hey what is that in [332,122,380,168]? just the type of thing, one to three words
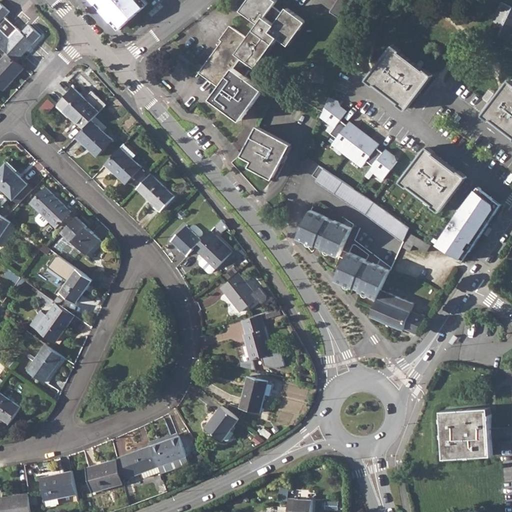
house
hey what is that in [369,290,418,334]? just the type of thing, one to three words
building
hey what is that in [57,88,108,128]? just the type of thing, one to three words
house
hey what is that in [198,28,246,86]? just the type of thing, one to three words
building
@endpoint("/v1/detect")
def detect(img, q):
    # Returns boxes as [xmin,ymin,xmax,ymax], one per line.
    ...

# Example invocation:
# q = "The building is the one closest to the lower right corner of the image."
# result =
[437,408,493,461]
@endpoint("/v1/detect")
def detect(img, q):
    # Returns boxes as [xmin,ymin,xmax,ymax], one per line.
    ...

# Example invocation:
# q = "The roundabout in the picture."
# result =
[299,352,406,504]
